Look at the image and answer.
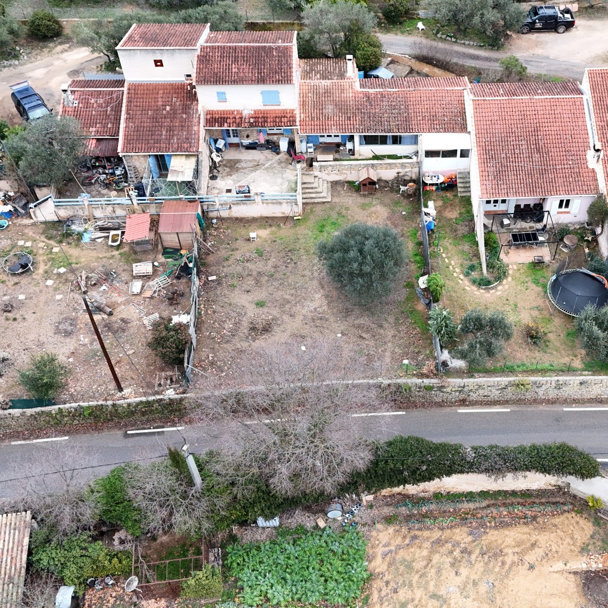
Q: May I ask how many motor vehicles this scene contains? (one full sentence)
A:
My tally gives 2 motor vehicles in this view.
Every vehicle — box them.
[519,4,579,32]
[6,71,49,121]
